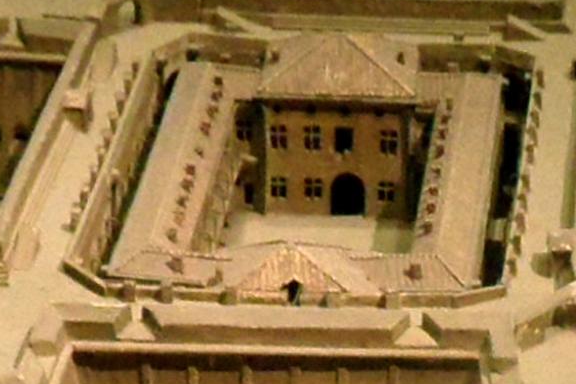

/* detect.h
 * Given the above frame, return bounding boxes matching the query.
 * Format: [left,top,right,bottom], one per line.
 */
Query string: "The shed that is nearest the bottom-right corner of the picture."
[545,233,575,275]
